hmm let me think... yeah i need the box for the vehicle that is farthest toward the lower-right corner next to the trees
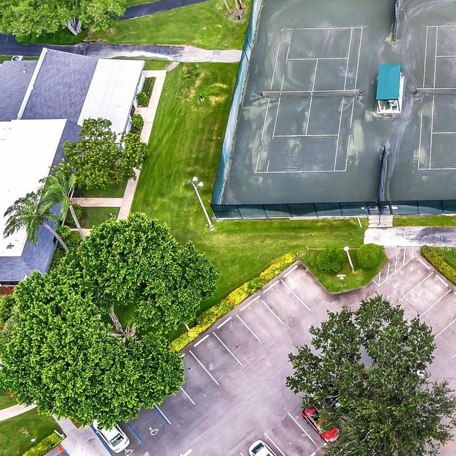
[302,405,340,446]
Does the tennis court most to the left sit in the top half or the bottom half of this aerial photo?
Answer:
top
